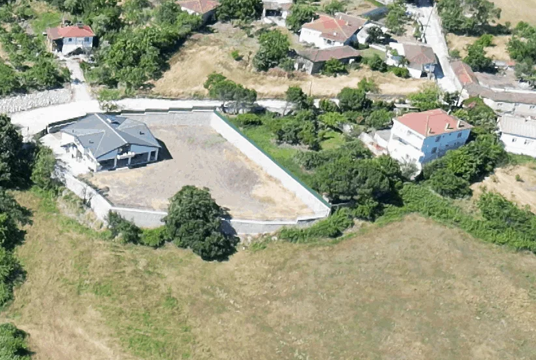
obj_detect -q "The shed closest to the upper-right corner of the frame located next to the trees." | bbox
[490,50,523,73]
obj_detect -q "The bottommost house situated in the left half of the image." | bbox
[55,113,165,174]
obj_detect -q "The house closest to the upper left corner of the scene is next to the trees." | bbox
[46,16,99,56]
